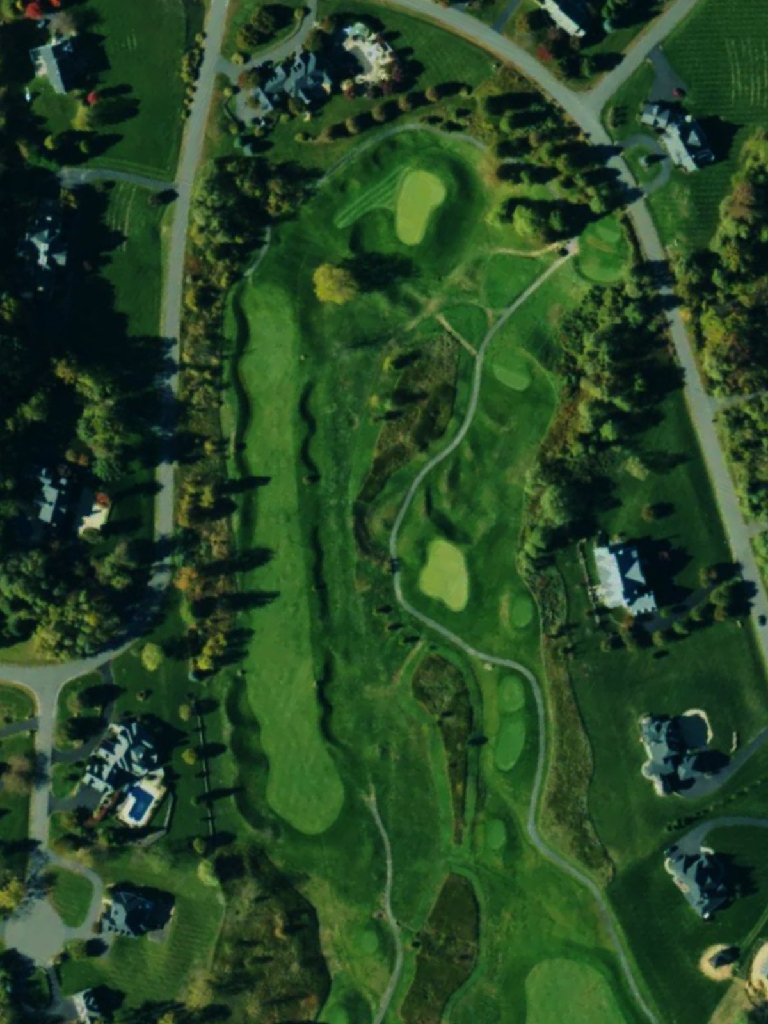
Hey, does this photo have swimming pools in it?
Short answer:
Yes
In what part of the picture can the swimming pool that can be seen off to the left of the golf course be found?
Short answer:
bottom left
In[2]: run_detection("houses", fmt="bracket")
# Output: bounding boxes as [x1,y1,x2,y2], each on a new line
[594,544,658,618]
[542,0,590,36]
[641,104,715,176]
[102,890,161,938]
[641,716,705,797]
[675,854,732,919]
[82,724,155,793]
[30,37,76,97]
[253,52,331,113]
[74,991,103,1024]
[36,472,70,526]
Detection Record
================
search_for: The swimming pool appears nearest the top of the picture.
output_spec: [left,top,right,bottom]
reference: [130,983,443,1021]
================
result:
[128,785,154,822]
